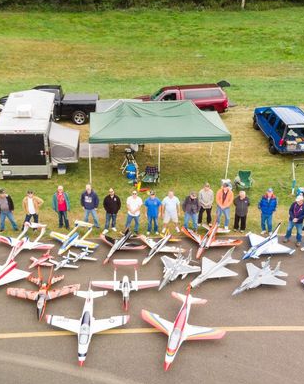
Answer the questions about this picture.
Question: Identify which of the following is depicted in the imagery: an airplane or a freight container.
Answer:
airplane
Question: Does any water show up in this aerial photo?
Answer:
No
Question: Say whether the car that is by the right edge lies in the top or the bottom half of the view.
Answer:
top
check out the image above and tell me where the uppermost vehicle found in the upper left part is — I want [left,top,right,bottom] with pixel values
[33,80,102,125]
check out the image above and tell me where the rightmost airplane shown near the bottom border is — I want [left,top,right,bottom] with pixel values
[142,281,229,370]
